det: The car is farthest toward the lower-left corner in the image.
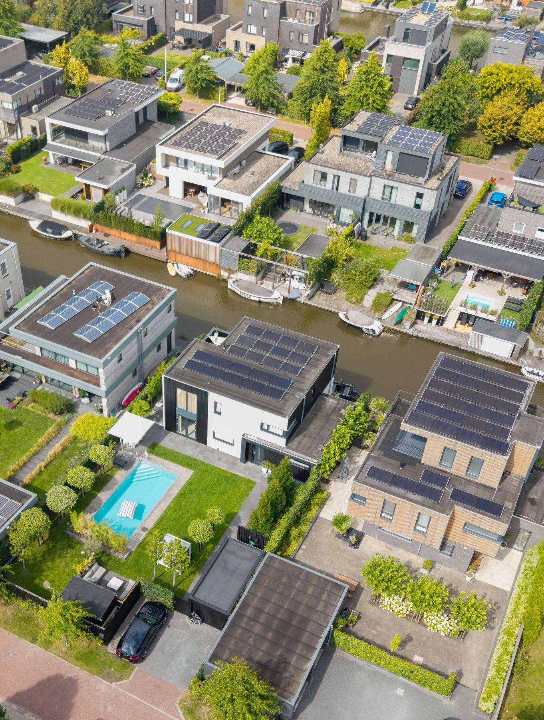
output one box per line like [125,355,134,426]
[116,599,171,664]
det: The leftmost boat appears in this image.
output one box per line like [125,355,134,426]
[29,219,78,242]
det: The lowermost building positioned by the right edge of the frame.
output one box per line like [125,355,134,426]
[347,351,544,572]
